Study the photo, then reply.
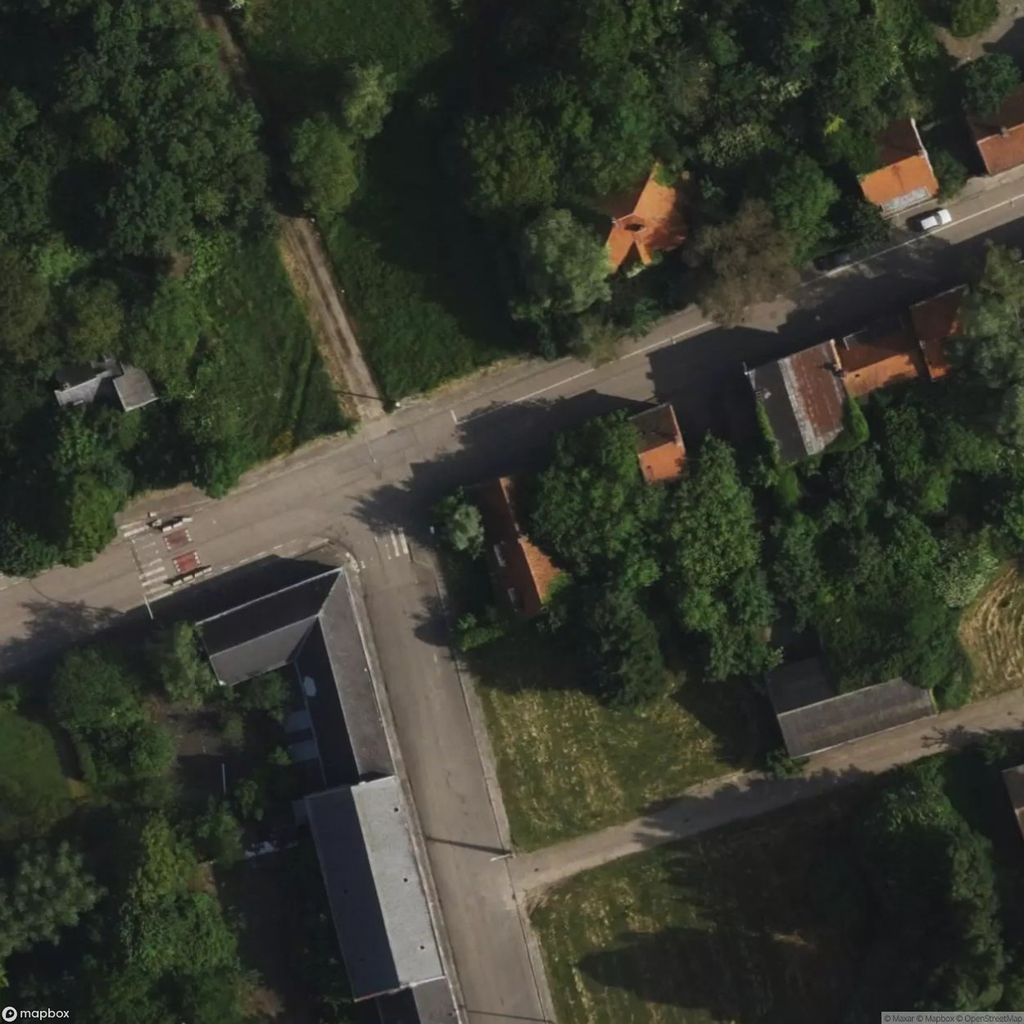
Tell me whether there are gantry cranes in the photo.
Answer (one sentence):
No, I find no gantry crane anywhere in the image.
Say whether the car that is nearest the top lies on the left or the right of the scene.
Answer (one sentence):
The car that is nearest the top appears in the right half of the scene.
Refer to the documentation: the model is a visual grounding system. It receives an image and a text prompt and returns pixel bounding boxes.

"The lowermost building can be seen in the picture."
[375,977,459,1024]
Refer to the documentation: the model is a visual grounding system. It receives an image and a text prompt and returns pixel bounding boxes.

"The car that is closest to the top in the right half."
[918,208,953,231]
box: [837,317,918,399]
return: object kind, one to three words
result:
house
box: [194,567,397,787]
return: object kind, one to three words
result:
house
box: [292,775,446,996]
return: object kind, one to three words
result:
building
